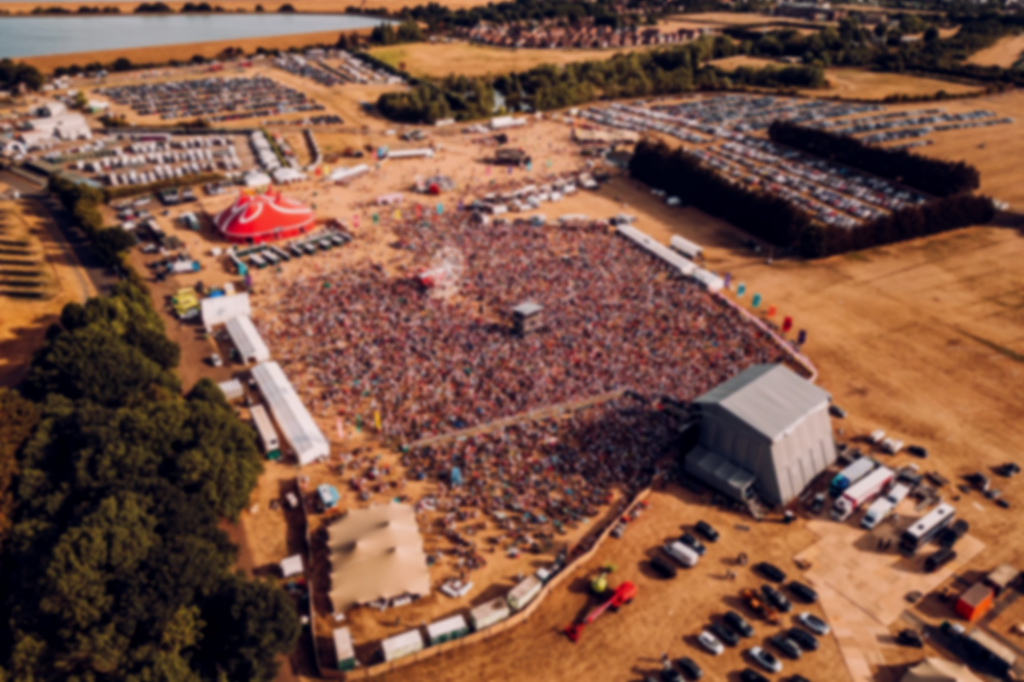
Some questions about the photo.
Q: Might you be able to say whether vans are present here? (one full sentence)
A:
Yes, looking at the shot, I can spot a van.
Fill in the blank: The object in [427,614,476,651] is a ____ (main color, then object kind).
white trailer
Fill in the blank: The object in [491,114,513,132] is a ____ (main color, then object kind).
white tent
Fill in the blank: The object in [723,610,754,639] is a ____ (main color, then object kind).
black car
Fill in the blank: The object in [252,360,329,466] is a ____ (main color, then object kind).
white tent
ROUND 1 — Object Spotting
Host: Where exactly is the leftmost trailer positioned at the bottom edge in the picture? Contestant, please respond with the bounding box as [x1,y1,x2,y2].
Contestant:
[332,627,357,668]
